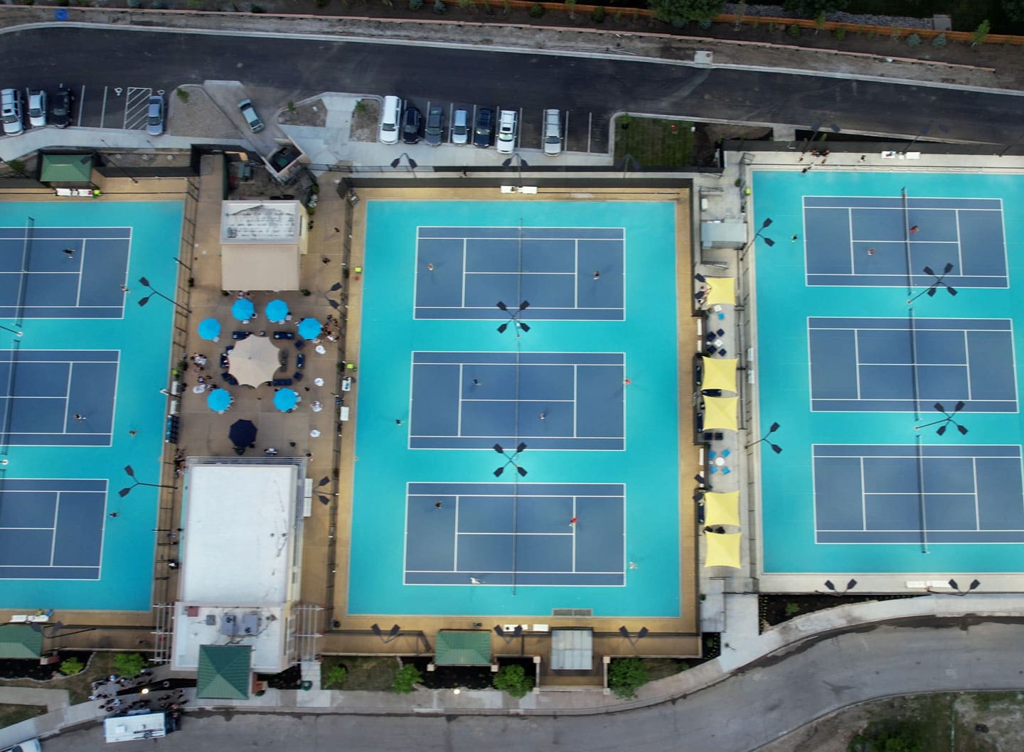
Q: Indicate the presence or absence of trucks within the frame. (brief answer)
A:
Yes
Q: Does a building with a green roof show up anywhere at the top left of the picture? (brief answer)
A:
Yes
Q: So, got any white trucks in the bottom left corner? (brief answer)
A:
Yes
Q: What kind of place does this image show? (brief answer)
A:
sports ground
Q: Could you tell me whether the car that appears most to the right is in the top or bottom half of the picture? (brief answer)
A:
top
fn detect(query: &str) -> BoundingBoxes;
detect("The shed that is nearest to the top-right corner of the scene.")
[699,218,747,252]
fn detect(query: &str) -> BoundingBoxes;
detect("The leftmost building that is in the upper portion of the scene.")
[40,154,107,193]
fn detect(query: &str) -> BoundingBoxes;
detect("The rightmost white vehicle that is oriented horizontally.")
[106,706,190,742]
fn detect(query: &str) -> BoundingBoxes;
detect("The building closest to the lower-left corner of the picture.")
[0,623,59,659]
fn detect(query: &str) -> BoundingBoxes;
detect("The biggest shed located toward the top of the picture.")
[221,200,312,298]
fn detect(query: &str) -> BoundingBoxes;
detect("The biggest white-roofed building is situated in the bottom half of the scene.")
[144,457,324,699]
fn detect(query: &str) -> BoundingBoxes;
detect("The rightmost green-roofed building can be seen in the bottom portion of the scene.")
[435,630,493,665]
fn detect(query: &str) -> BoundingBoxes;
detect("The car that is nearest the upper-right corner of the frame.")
[542,109,563,156]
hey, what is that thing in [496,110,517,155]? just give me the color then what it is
white car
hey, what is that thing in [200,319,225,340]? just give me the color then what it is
blue umbrella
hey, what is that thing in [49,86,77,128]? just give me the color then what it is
black car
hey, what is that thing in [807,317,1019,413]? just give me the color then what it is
blue tennis court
